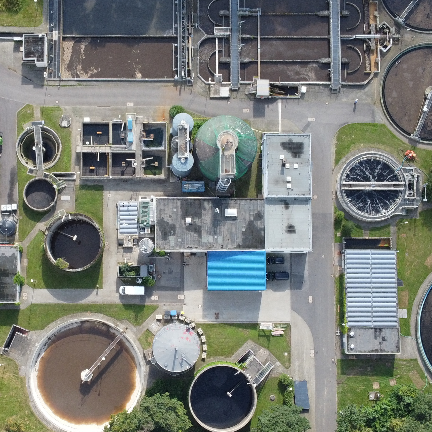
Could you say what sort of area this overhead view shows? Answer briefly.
industrial area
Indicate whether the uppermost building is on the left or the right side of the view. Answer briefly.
left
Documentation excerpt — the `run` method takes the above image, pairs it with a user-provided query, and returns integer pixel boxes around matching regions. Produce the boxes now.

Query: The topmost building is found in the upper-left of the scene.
[21,34,48,69]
